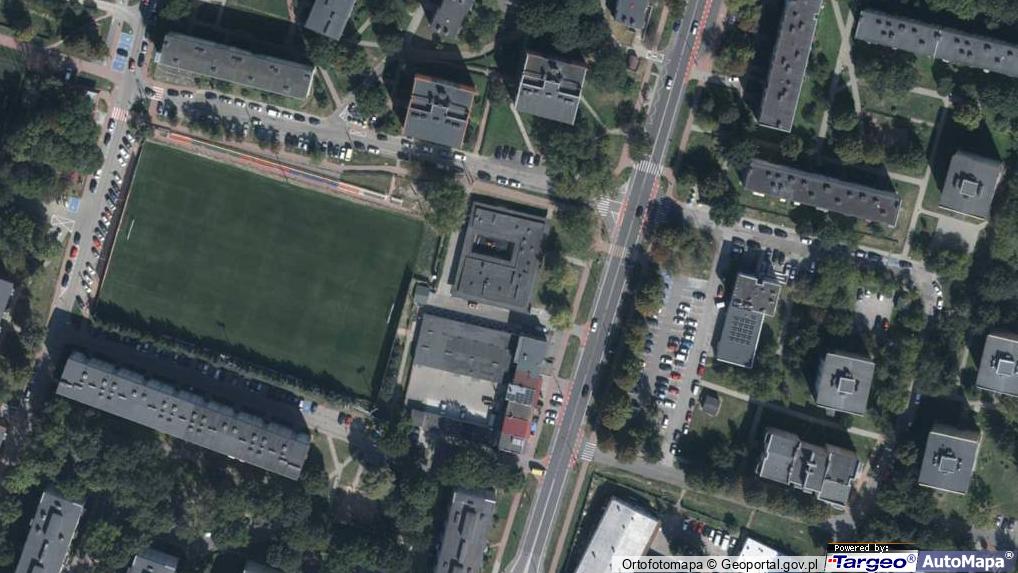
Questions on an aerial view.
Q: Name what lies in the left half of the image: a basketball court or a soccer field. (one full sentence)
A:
Looking in the left half of the image, you will find a soccer field.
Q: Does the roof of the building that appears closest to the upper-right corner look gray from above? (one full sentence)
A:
Yes, the roof of the building that appears closest to the upper-right corner appears gray.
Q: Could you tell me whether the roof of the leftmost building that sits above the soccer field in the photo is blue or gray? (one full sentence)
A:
In this view, the roof of the leftmost building that sits above the soccer field is gray.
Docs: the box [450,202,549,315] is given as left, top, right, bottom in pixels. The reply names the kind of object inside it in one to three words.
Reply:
building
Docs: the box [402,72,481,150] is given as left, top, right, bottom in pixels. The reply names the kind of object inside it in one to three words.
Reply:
building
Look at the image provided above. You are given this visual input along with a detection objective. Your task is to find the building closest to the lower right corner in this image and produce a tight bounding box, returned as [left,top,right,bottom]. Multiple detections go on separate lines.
[919,426,979,494]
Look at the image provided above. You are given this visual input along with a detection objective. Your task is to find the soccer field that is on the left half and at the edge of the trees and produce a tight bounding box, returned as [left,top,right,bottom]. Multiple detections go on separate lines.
[91,139,424,402]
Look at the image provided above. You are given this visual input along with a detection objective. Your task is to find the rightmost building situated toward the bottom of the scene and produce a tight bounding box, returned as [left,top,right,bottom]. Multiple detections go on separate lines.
[977,328,1018,397]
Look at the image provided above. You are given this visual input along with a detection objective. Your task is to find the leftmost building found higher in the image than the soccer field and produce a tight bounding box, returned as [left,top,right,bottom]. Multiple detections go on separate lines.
[155,31,319,98]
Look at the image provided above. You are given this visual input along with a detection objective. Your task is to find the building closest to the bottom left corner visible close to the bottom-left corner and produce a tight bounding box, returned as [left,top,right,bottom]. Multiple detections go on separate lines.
[13,487,89,573]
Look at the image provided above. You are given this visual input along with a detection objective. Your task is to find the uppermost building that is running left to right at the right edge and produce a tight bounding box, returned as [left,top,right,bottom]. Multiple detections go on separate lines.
[855,7,1018,77]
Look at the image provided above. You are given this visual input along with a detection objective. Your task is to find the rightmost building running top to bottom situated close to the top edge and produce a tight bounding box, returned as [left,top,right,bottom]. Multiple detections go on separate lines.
[757,0,824,132]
